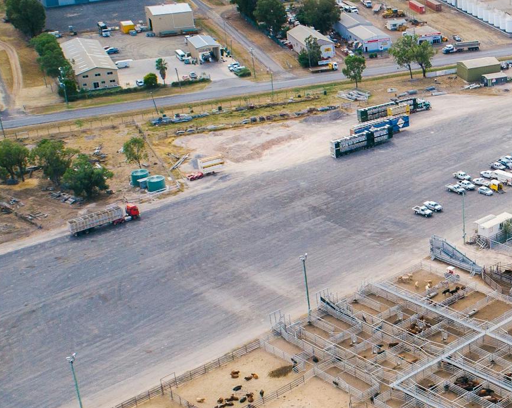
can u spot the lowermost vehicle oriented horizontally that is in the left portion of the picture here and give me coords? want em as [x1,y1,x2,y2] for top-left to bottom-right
[61,203,144,238]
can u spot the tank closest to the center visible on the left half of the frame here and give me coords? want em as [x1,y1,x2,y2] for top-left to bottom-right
[141,174,169,195]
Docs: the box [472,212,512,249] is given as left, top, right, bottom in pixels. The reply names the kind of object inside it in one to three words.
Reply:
shed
